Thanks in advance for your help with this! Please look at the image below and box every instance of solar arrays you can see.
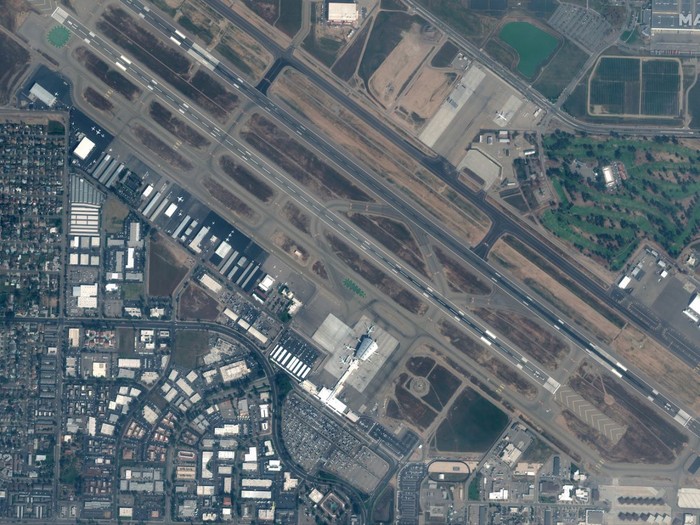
[588,56,684,118]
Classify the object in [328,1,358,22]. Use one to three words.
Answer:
hangar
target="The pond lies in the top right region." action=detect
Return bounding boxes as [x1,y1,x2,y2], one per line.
[500,22,558,79]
